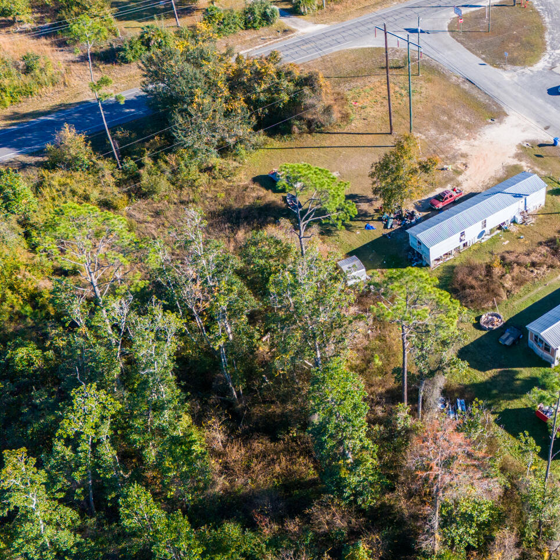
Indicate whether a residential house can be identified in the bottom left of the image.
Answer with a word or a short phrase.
No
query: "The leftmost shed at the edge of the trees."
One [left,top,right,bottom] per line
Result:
[332,253,367,284]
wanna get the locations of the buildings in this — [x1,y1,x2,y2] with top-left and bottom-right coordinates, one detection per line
[404,173,550,266]
[524,303,560,365]
[332,253,367,284]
